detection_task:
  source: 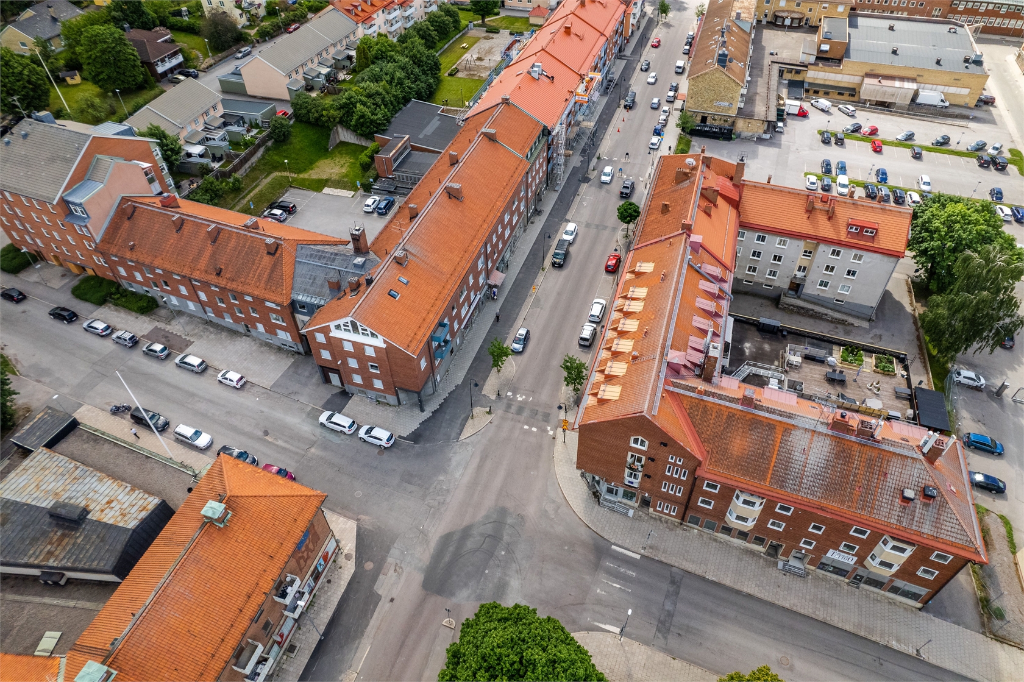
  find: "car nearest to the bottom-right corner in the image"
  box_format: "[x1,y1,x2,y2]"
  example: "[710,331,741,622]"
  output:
[968,467,1013,498]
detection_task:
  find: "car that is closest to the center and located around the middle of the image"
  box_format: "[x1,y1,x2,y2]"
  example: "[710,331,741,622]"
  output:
[509,326,530,354]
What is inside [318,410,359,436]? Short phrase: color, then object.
white car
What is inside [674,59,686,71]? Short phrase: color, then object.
white vehicle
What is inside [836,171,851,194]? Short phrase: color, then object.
white vehicle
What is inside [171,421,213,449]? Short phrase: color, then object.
white car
